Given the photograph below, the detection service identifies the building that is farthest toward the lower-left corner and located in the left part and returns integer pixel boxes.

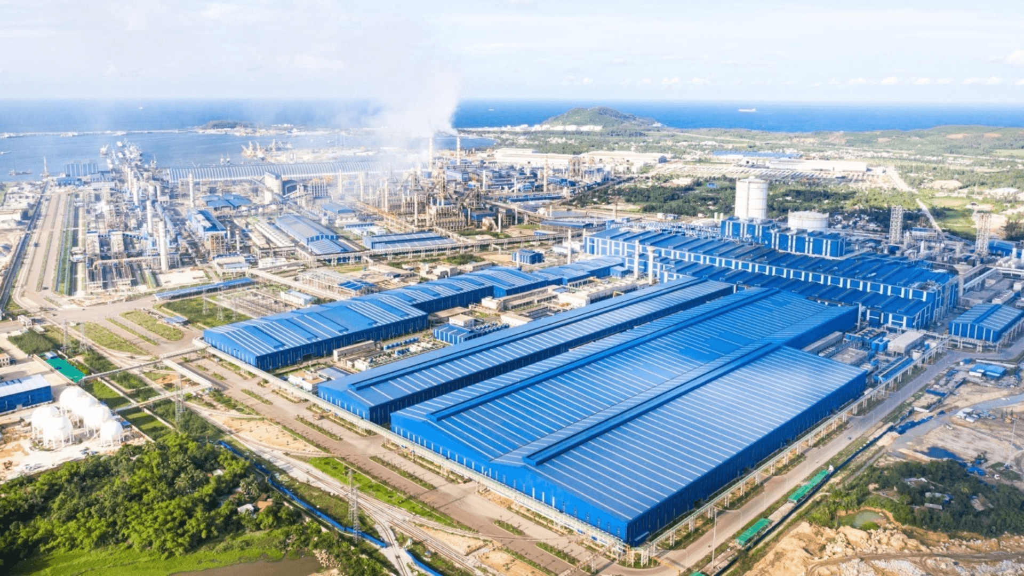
[0,375,53,414]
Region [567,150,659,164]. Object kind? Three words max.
building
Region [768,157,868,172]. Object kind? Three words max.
building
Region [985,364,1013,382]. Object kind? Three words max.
shed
